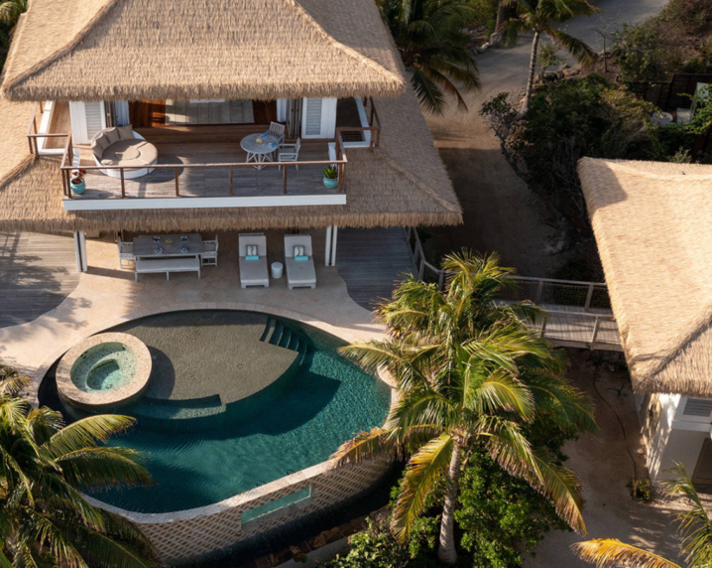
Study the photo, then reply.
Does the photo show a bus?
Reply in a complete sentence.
No, no bus can be seen from above.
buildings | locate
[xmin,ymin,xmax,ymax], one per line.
[566,167,712,488]
[0,0,462,272]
